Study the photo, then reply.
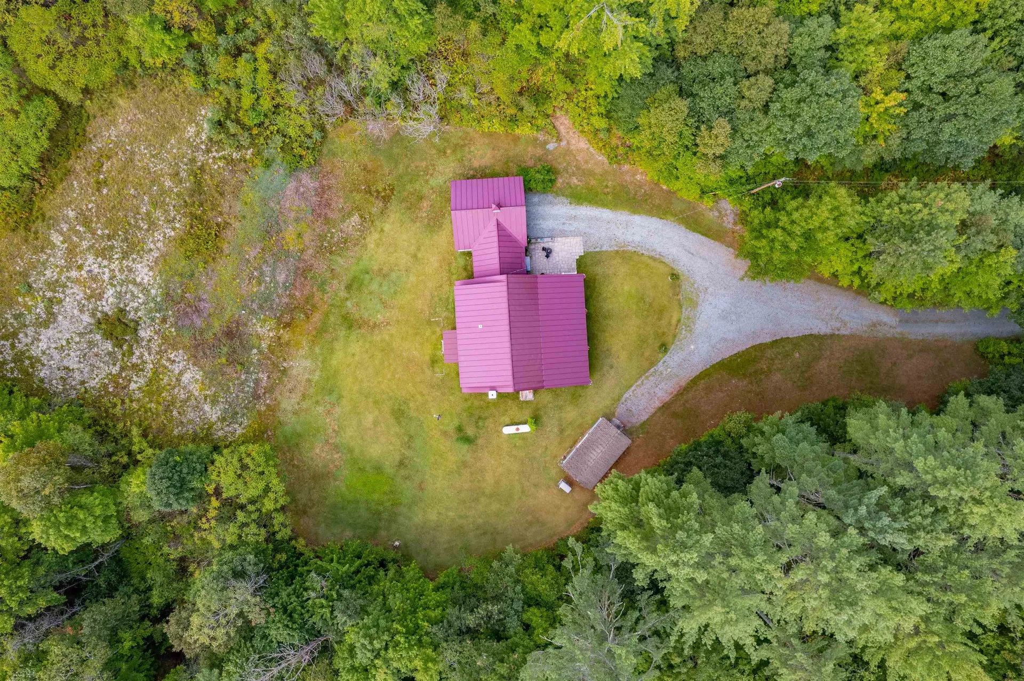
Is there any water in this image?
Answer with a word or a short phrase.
No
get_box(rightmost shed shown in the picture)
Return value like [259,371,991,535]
[560,415,631,488]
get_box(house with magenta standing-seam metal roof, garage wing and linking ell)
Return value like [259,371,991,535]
[442,176,592,400]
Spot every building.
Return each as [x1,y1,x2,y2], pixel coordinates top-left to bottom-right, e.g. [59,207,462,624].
[560,415,631,488]
[442,176,592,400]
